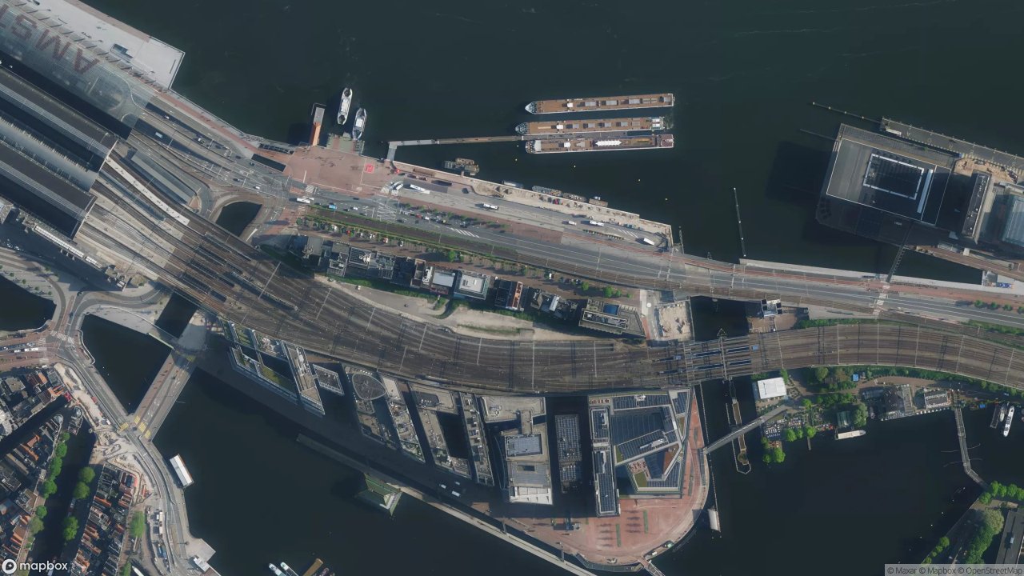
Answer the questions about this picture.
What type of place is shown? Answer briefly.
port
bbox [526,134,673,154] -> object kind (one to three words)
ship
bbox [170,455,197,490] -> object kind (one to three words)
house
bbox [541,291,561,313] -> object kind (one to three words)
building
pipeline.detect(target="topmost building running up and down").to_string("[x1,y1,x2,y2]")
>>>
[310,109,326,149]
